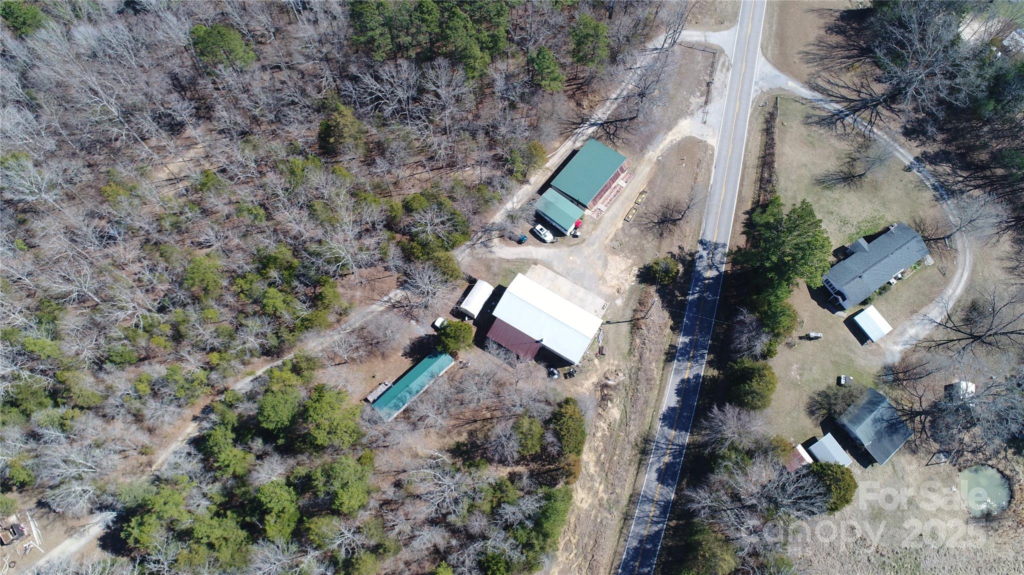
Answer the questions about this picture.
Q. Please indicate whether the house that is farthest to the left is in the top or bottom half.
bottom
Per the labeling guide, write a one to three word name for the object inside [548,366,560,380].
vehicle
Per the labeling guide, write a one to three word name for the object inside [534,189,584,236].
building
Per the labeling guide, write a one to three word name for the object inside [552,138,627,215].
barn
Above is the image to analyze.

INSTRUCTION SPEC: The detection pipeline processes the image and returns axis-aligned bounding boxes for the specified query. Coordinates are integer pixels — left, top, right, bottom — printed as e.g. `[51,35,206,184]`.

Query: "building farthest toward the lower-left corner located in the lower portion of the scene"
[373,348,452,424]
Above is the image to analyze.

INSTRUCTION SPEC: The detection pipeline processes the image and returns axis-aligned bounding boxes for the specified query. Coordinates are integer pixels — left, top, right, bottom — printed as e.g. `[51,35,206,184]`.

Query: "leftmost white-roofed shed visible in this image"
[460,280,494,320]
